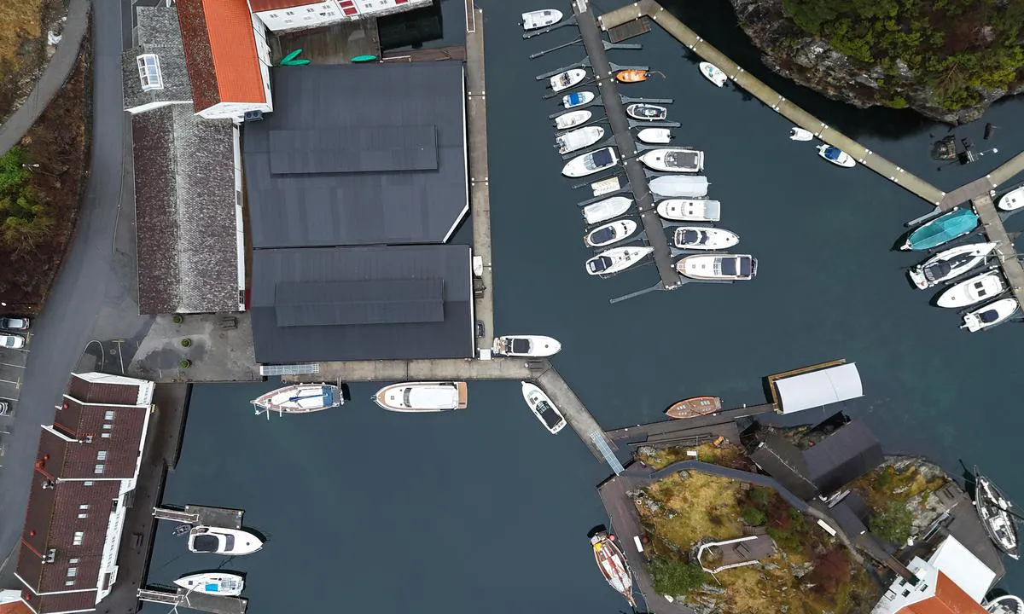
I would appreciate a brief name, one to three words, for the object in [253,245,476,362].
warehouse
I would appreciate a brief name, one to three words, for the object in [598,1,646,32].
pier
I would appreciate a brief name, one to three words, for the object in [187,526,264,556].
boat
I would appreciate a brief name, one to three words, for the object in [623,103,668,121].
boat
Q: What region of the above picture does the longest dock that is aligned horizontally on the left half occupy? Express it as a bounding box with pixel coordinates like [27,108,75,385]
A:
[284,358,534,382]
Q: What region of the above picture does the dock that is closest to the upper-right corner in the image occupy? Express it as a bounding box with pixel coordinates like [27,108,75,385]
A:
[985,151,1024,185]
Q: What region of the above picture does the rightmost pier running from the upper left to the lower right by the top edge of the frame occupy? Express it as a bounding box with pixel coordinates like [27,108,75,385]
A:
[652,6,944,205]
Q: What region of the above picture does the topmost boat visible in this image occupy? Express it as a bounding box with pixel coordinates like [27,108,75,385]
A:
[518,7,577,29]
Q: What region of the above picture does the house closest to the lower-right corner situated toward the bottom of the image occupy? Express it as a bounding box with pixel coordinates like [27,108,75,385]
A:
[870,531,996,614]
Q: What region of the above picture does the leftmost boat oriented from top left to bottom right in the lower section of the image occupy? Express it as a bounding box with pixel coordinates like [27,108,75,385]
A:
[520,380,565,433]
